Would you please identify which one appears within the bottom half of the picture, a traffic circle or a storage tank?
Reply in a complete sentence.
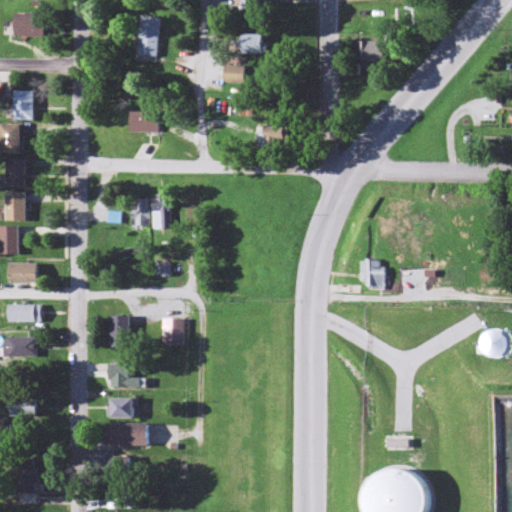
The feature located within the bottom half of the picture is a storage tank.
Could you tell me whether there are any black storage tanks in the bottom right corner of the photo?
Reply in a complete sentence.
No, there's no black storage tank to be seen in the bottom right corner of the photo.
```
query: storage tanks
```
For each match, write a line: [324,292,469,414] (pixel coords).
[356,464,435,512]
[474,325,512,362]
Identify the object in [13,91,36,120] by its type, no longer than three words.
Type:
house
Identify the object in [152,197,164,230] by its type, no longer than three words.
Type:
house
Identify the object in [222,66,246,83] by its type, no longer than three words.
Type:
building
